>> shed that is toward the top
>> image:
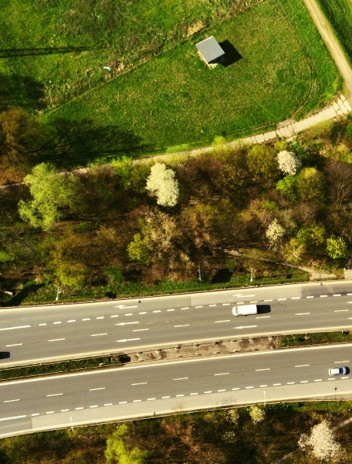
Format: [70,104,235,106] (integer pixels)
[195,37,228,72]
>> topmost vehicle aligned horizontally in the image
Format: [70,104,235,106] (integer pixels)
[233,303,259,316]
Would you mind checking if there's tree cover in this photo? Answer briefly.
Yes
